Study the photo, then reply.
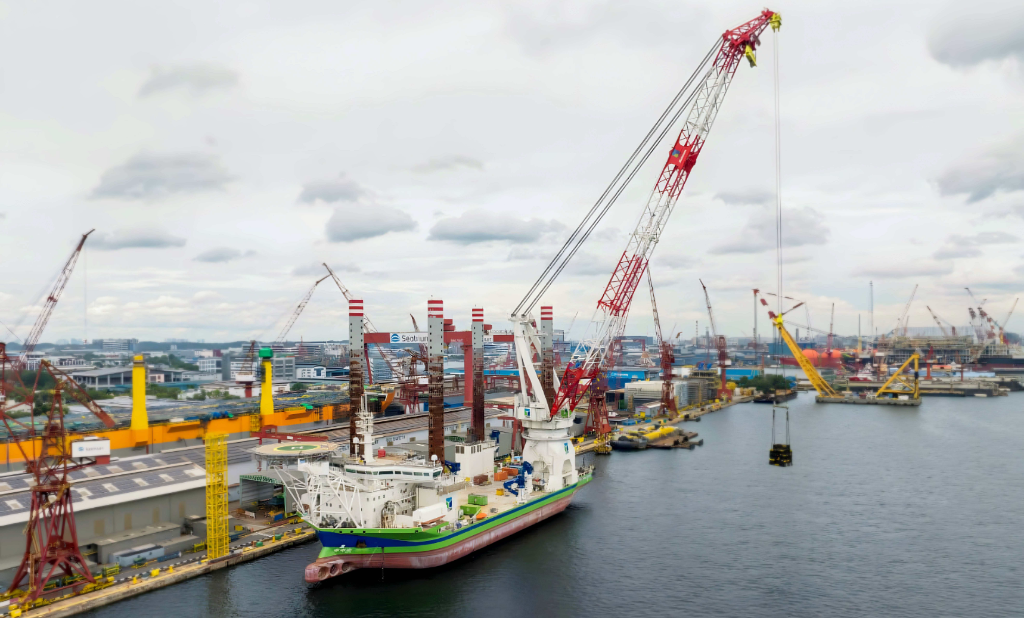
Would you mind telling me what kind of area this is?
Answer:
port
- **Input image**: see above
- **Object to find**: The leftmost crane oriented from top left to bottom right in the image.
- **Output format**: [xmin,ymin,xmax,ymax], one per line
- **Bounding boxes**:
[323,264,428,415]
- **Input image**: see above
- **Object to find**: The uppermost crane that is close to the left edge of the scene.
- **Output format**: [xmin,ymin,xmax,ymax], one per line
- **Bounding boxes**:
[5,229,95,418]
